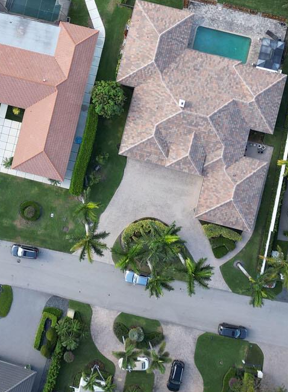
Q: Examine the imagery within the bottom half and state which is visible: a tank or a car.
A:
car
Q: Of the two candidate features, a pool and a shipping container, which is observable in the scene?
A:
pool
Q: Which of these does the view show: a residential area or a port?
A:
residential area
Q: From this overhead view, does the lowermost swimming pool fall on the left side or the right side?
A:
right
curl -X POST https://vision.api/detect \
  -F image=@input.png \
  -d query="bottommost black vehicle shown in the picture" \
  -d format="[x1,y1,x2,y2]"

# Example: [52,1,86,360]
[166,358,186,392]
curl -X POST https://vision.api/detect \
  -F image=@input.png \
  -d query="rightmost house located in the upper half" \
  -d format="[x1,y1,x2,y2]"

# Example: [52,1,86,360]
[117,0,287,233]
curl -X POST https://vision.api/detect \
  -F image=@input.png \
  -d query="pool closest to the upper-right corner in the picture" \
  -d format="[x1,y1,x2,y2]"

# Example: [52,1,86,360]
[190,23,254,64]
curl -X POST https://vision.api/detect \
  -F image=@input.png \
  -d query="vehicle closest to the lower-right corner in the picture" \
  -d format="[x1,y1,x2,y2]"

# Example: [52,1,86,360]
[217,322,247,341]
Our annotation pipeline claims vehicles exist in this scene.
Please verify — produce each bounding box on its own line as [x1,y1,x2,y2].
[166,358,186,392]
[121,270,154,288]
[217,322,247,341]
[10,243,39,260]
[117,355,149,371]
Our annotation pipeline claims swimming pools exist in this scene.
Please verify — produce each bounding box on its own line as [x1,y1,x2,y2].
[4,0,63,23]
[190,23,254,64]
